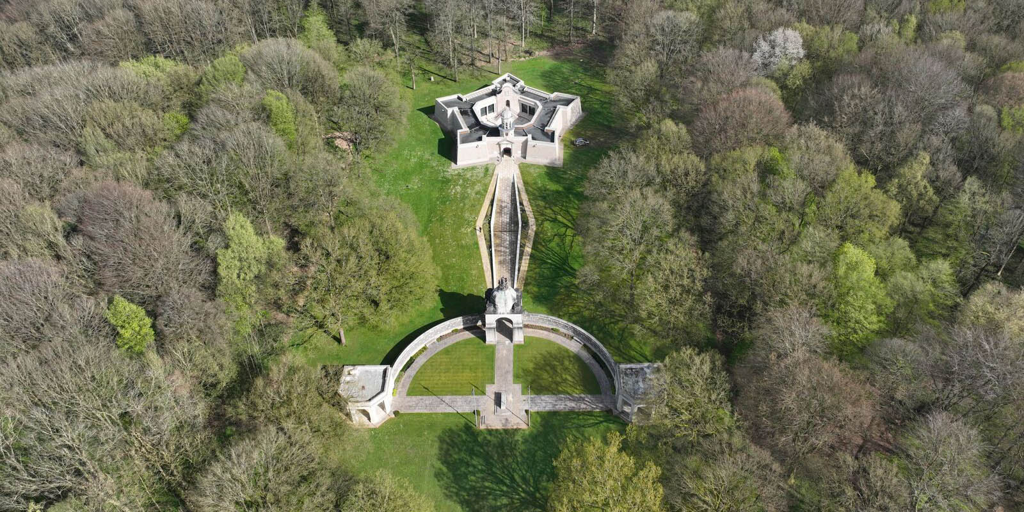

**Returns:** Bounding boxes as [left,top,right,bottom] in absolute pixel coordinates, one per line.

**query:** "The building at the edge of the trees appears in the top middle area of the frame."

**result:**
[433,73,583,165]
